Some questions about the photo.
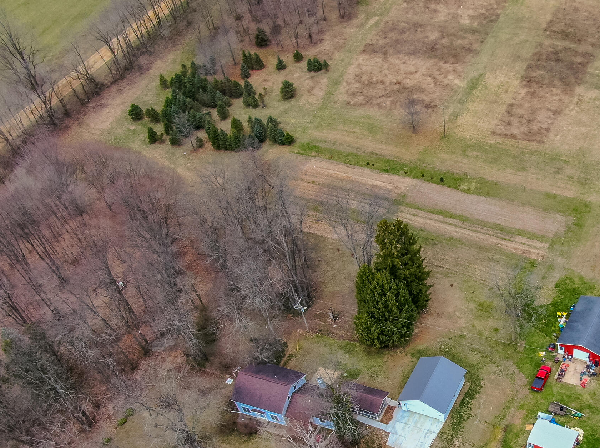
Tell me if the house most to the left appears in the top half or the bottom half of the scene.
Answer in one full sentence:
The house most to the left is in the bottom half of the image.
